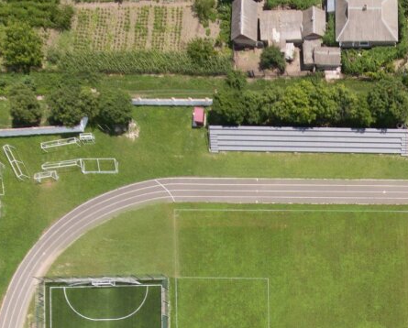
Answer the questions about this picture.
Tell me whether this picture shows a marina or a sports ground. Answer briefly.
sports ground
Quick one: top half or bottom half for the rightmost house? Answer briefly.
top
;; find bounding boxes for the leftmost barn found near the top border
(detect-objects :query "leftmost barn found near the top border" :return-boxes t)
[232,0,260,48]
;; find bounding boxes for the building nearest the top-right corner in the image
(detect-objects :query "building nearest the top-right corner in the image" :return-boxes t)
[336,0,398,48]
